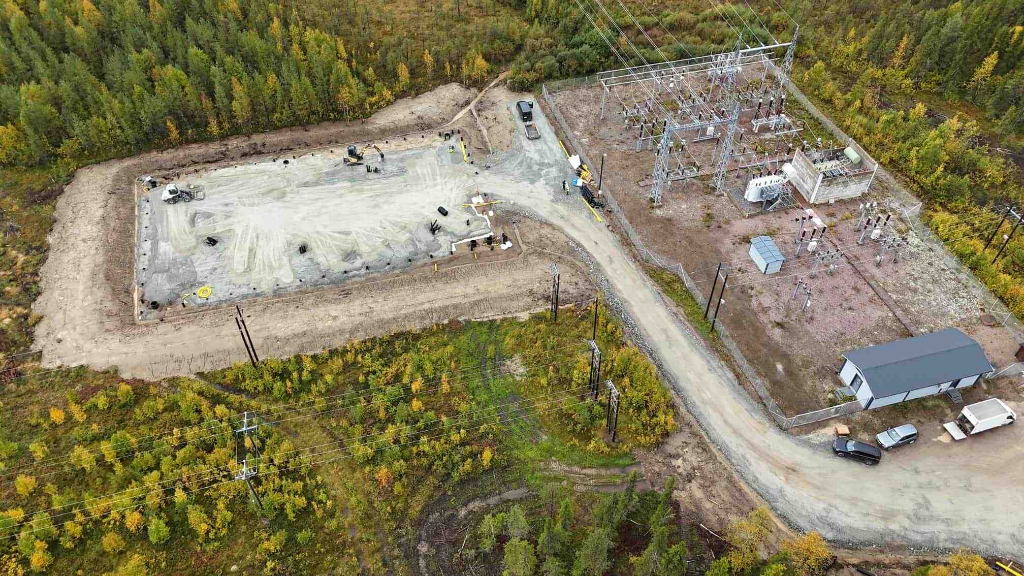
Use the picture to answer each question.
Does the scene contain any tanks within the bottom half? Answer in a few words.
No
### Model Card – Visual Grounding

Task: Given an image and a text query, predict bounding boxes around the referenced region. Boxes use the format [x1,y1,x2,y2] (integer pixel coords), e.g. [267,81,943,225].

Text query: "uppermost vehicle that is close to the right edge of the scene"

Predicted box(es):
[947,392,1024,434]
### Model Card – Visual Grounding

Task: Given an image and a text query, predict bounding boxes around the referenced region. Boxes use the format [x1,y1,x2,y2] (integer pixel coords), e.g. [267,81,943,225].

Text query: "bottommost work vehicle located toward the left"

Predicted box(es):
[160,183,207,205]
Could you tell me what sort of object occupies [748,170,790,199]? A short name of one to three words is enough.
storage tank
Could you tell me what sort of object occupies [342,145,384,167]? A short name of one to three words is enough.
work vehicle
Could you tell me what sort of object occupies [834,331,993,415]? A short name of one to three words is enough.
building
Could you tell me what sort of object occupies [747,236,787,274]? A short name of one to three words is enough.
shed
